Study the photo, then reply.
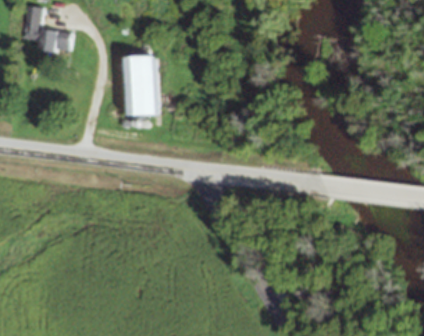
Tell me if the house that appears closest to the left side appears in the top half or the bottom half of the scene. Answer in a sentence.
The house that appears closest to the left side is in the top half of the image.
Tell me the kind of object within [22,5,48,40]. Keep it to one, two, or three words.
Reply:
house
